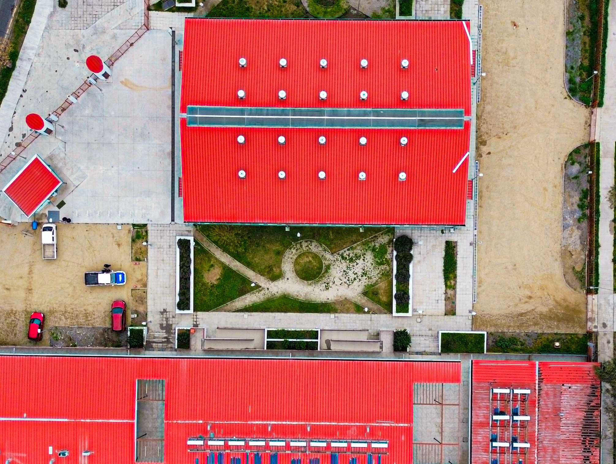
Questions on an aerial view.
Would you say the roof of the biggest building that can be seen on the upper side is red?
Yes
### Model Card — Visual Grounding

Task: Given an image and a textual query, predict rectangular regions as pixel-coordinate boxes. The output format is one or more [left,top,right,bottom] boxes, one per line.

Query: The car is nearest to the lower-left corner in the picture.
[28,312,46,342]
